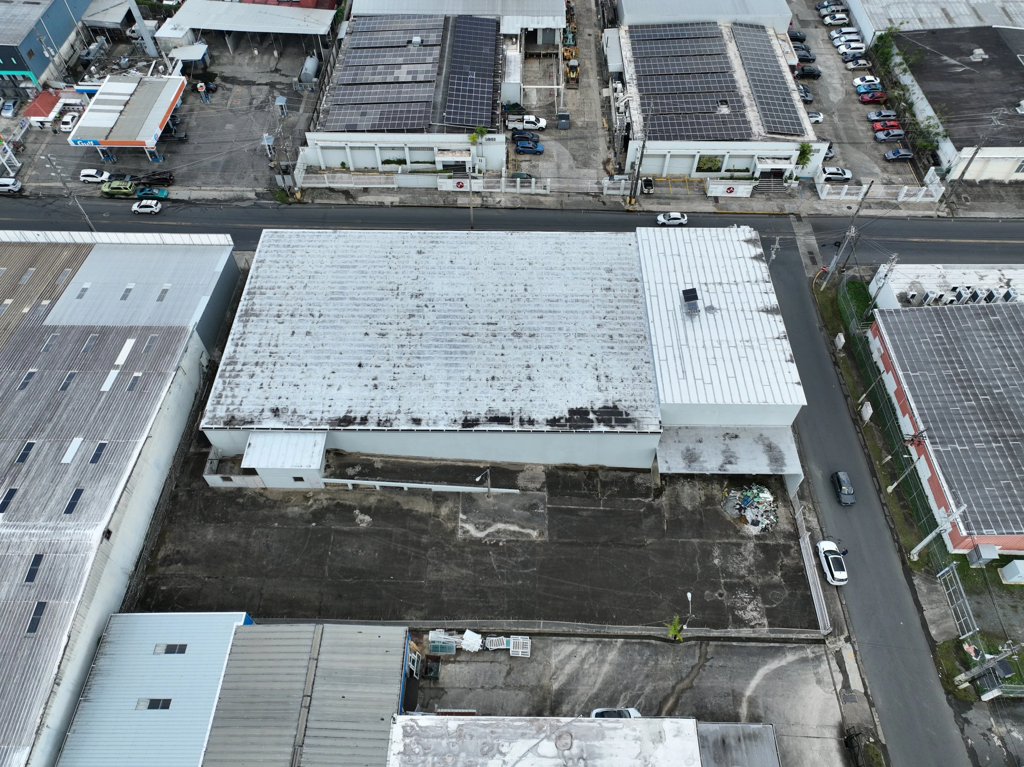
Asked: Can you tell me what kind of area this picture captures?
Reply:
industrial area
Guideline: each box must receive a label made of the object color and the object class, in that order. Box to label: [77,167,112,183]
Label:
white car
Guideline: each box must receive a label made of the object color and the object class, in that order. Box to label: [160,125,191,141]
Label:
black car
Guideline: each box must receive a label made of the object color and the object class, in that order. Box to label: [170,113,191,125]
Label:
black vehicle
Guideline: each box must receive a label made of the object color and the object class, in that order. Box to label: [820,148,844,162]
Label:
gray car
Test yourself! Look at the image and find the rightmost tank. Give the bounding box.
[293,49,328,87]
